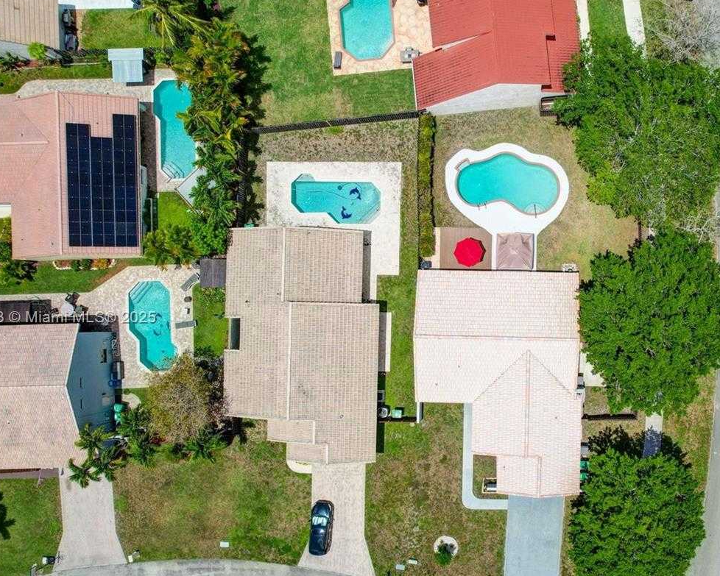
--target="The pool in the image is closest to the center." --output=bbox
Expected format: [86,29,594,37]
[289,171,383,226]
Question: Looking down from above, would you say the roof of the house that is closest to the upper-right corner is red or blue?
red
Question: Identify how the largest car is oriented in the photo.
up and down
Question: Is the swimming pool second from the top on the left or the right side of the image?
left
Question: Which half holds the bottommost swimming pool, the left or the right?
left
